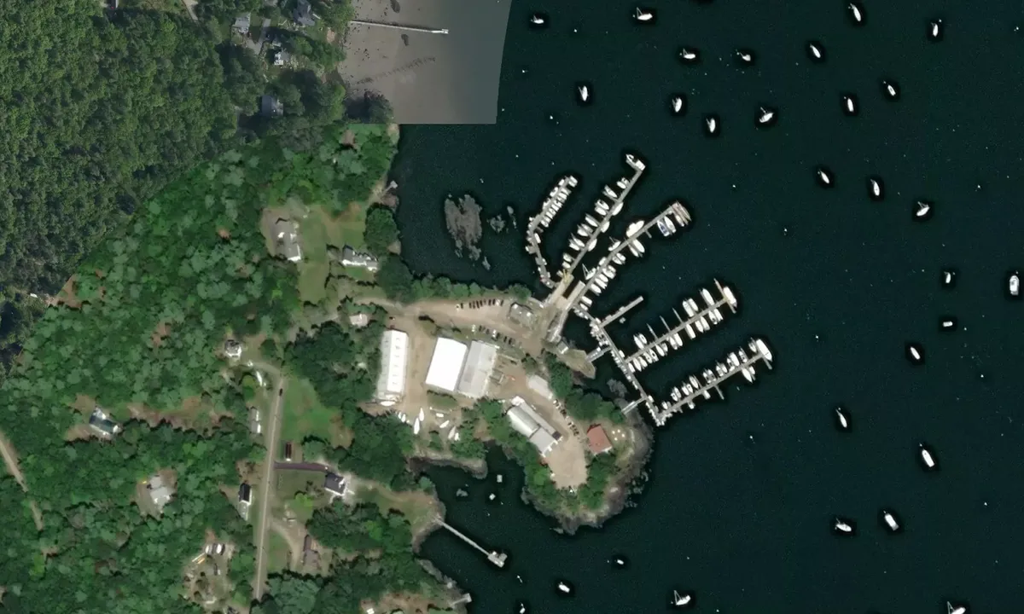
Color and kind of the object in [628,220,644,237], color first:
white boat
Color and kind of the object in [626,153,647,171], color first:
white boat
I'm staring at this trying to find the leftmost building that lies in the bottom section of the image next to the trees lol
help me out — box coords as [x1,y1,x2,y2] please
[90,408,119,437]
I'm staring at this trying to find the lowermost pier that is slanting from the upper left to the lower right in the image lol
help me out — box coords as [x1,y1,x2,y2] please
[439,519,508,567]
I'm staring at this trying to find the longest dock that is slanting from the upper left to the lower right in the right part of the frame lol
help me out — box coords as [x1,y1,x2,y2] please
[573,305,661,425]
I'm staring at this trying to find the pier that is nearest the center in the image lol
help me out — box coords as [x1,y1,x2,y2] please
[547,274,586,313]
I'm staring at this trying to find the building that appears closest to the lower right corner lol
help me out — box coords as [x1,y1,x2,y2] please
[588,426,612,453]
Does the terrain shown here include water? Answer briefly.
Yes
